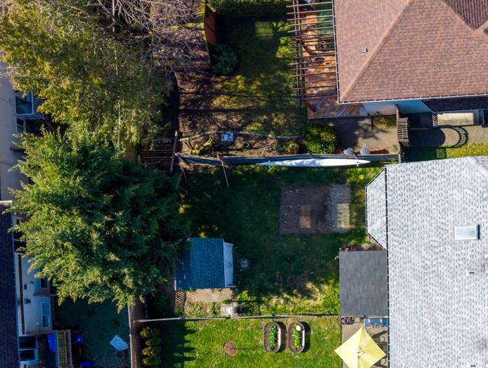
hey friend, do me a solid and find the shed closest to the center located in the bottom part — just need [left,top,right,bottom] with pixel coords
[174,236,236,290]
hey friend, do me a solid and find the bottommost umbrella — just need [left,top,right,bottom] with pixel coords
[334,327,385,368]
